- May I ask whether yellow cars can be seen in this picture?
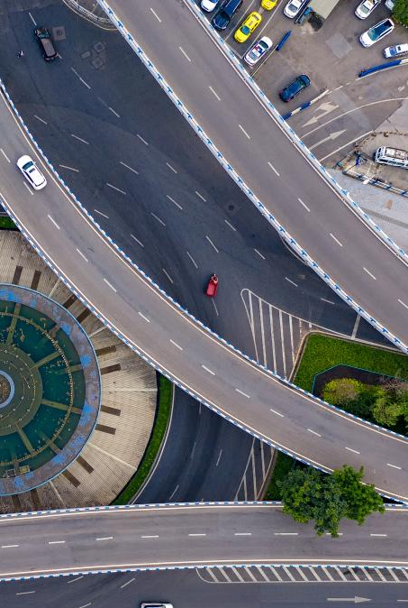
Yes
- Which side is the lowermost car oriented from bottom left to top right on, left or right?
right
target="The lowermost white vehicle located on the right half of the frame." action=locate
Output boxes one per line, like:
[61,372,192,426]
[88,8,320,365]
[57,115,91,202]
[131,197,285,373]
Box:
[370,149,408,171]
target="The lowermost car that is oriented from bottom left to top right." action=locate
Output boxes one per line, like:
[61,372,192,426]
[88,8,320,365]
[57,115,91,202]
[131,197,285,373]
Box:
[278,75,307,102]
